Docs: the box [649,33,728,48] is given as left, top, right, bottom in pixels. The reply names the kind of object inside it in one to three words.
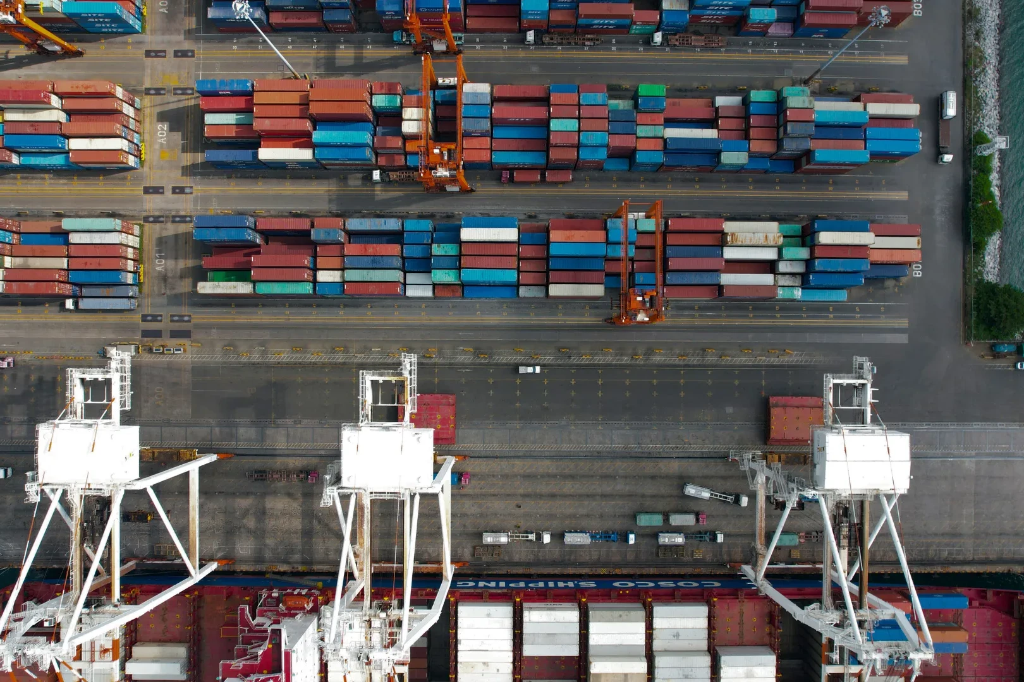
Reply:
vehicle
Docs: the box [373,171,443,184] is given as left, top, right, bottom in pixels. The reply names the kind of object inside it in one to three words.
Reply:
vehicle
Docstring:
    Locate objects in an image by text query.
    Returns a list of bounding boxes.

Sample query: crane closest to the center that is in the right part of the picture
[597,199,668,330]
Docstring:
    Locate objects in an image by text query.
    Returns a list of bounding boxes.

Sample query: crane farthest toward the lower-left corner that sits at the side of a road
[0,346,233,682]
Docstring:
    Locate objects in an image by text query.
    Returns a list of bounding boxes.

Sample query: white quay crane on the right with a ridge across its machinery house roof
[725,351,945,682]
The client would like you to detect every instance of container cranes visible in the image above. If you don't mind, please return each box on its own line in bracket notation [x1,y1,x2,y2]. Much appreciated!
[597,199,668,330]
[312,348,472,682]
[406,0,471,54]
[0,346,233,682]
[418,50,483,192]
[725,351,945,682]
[0,0,93,52]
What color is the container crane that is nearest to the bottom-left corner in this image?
white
